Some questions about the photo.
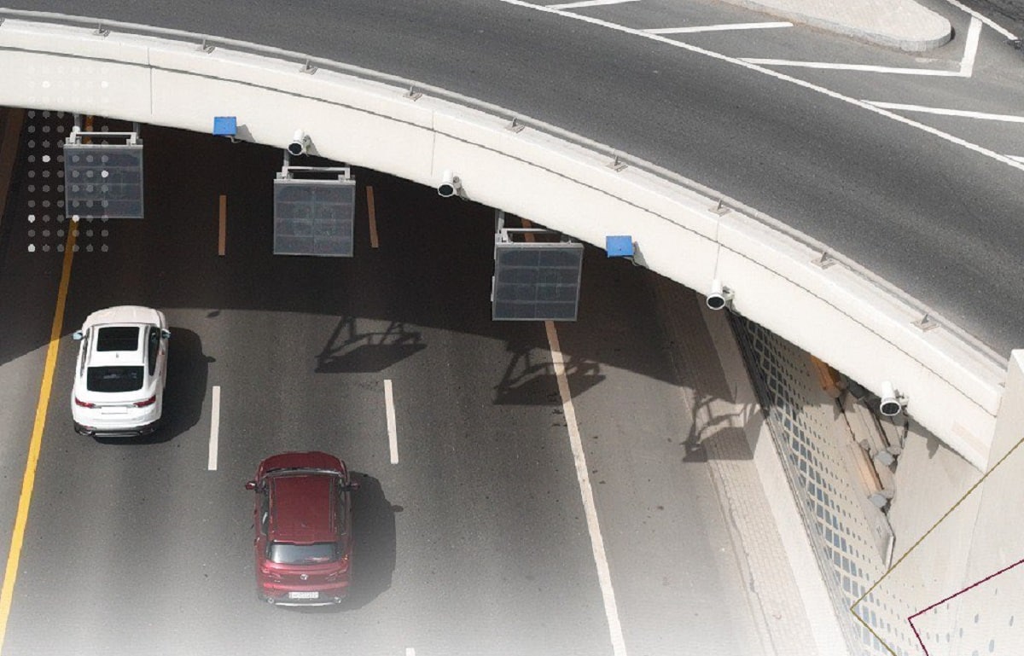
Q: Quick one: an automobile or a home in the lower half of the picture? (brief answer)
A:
automobile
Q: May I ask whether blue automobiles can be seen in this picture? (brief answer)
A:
No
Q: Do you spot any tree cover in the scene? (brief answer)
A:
No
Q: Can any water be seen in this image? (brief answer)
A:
No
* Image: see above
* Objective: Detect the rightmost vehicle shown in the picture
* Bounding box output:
[244,451,356,611]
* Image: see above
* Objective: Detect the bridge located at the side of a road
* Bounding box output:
[0,19,1015,472]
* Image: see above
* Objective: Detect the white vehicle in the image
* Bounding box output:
[71,304,171,441]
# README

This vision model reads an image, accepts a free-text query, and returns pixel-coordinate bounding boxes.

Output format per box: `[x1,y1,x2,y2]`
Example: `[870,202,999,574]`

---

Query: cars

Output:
[244,451,356,611]
[71,304,171,441]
